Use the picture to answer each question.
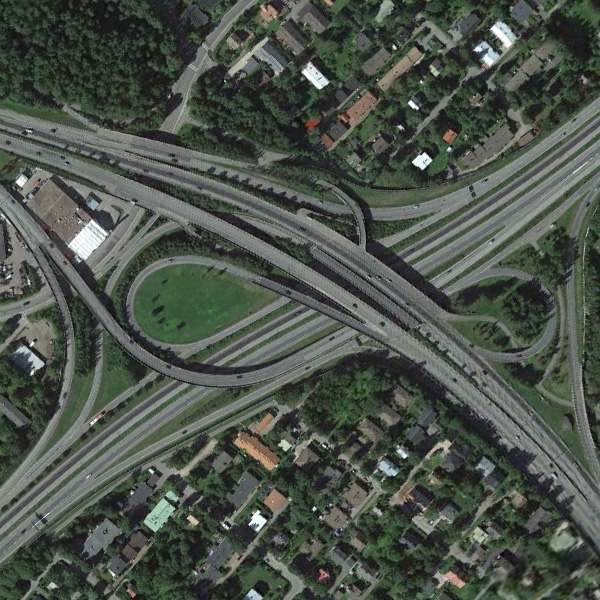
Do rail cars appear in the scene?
No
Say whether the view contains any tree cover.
Yes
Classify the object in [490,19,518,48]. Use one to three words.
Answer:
building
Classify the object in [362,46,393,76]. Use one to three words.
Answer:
house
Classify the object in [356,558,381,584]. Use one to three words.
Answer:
house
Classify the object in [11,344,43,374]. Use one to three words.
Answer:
building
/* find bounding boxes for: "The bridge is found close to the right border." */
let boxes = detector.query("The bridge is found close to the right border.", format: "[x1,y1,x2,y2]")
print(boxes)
[572,369,600,489]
